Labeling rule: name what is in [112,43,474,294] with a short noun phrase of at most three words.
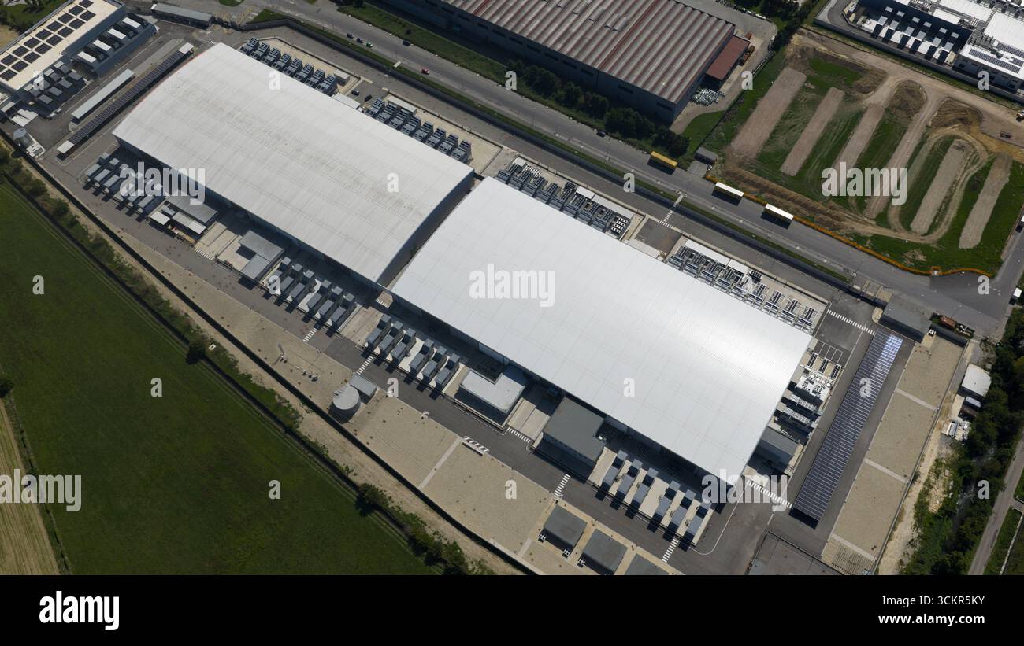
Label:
building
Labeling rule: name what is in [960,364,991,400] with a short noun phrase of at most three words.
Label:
barn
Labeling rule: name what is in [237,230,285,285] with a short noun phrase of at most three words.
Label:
building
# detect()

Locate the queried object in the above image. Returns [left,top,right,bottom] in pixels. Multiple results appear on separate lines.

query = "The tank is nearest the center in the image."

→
[332,384,361,420]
